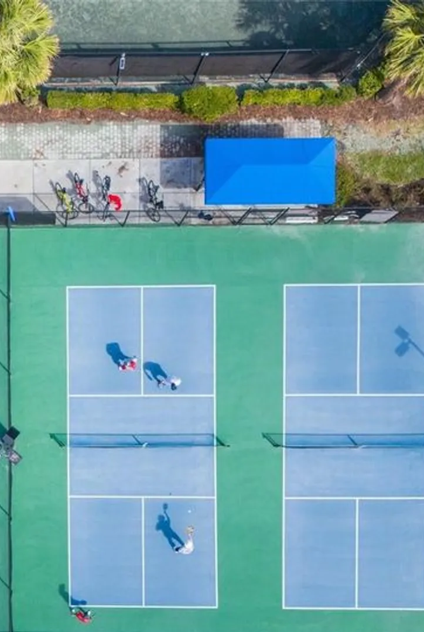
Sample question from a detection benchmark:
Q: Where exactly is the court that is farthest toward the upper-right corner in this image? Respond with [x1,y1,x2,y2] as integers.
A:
[32,0,410,82]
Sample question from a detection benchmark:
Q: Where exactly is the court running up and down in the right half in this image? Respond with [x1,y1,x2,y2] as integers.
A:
[283,283,424,610]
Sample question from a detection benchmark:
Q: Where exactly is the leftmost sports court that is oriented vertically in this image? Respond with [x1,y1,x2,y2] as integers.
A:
[66,285,217,608]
